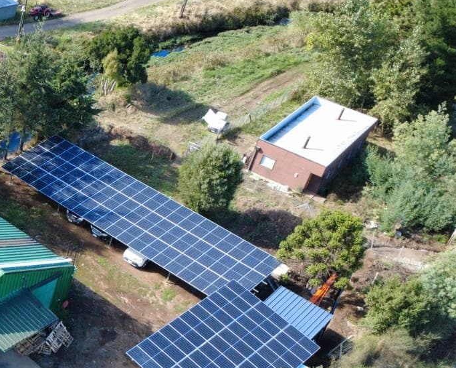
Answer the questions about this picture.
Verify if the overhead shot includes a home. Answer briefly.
Yes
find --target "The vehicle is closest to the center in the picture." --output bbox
[203,110,242,136]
